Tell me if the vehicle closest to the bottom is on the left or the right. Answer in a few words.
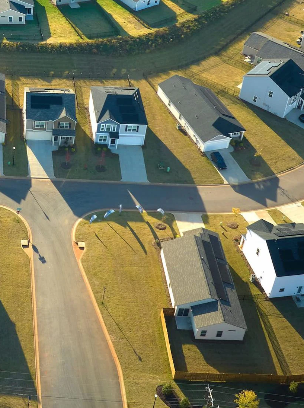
right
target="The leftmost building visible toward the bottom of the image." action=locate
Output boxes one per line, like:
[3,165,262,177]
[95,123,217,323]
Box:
[152,219,251,341]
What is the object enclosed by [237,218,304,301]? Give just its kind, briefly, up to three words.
house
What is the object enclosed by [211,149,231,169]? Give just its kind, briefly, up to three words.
vehicle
